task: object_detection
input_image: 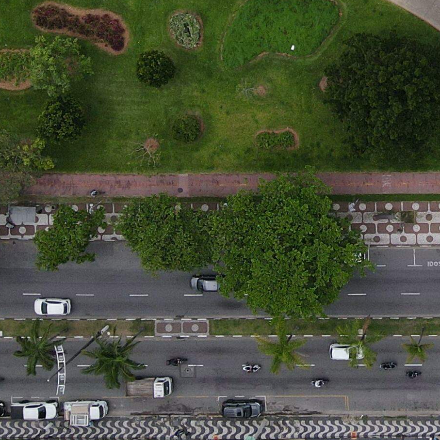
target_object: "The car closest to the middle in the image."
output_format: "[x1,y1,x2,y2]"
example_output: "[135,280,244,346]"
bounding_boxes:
[188,276,224,295]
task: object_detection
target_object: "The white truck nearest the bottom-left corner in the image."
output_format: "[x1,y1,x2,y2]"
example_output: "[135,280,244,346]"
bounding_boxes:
[11,400,56,421]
